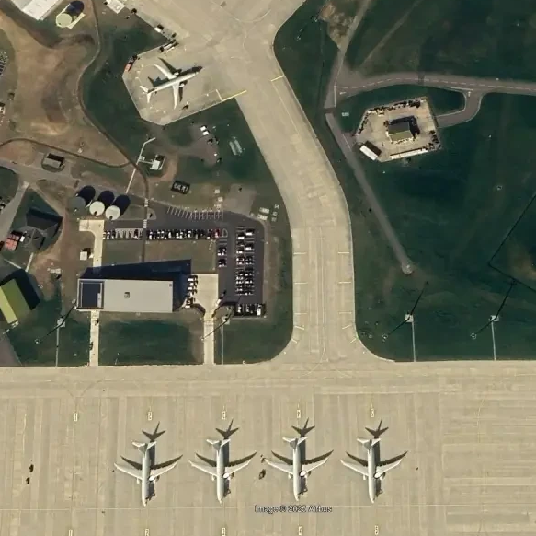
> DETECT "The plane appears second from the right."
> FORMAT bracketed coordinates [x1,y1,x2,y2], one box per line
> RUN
[265,435,329,500]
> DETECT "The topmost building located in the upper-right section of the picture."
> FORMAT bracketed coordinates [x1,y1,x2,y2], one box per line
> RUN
[388,118,416,141]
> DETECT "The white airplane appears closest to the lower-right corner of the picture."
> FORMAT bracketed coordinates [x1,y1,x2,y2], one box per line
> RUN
[338,436,404,501]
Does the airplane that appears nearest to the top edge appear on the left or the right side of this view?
left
